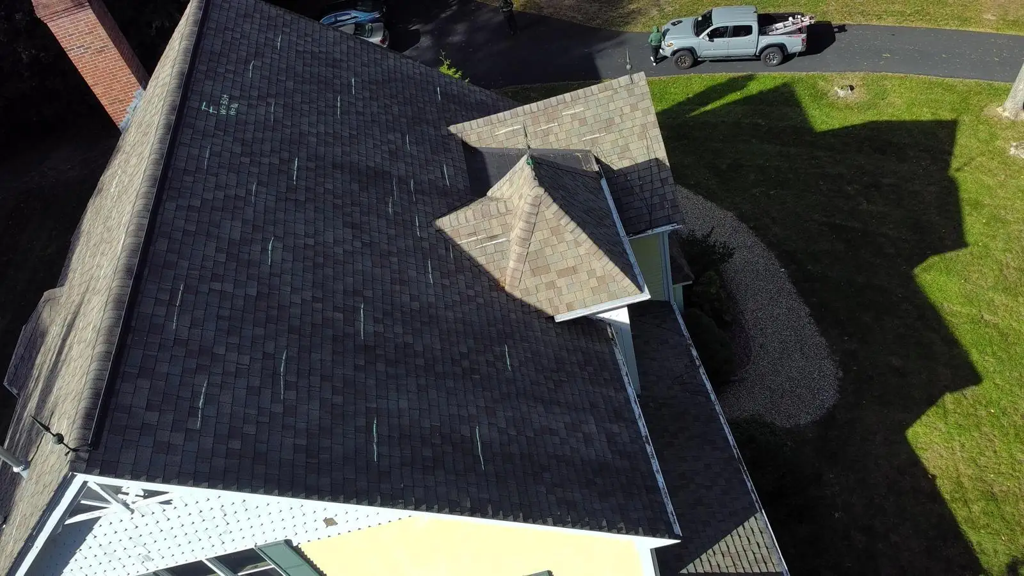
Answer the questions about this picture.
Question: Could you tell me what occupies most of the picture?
buildings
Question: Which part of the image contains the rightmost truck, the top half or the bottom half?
top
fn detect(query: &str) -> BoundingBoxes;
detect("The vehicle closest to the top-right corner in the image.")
[659,2,810,69]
